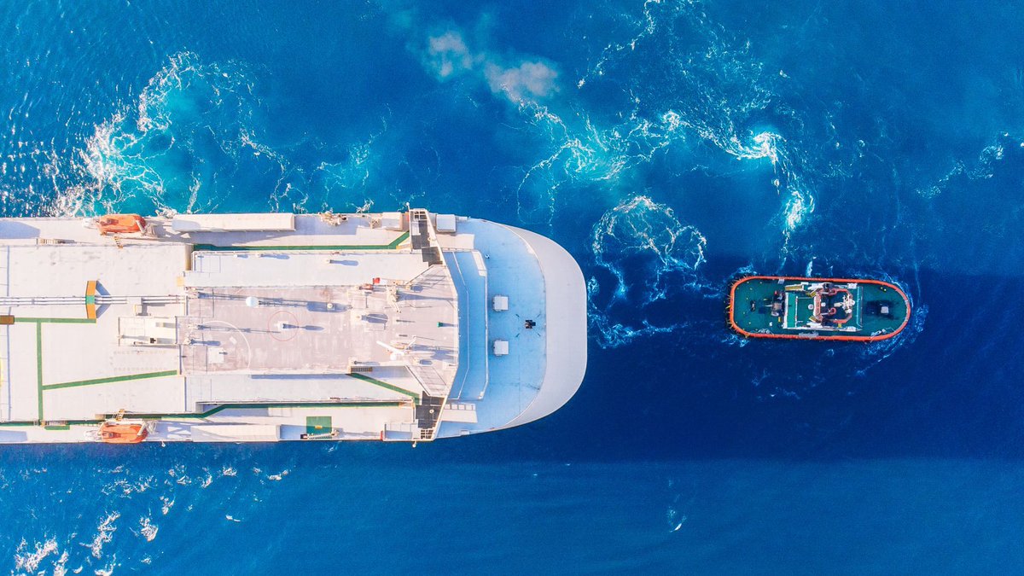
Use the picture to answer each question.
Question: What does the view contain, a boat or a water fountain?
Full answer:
I can see a boat in this picture.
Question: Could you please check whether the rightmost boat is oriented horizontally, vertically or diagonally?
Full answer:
The rightmost boat runs horizontally in the image.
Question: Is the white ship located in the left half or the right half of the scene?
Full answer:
You can find the white ship on the left side of the picture.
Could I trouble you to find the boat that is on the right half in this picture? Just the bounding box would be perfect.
[725,274,910,342]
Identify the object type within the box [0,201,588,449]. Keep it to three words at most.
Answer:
ship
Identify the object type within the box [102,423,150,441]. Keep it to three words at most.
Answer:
boat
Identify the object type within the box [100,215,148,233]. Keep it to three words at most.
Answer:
boat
